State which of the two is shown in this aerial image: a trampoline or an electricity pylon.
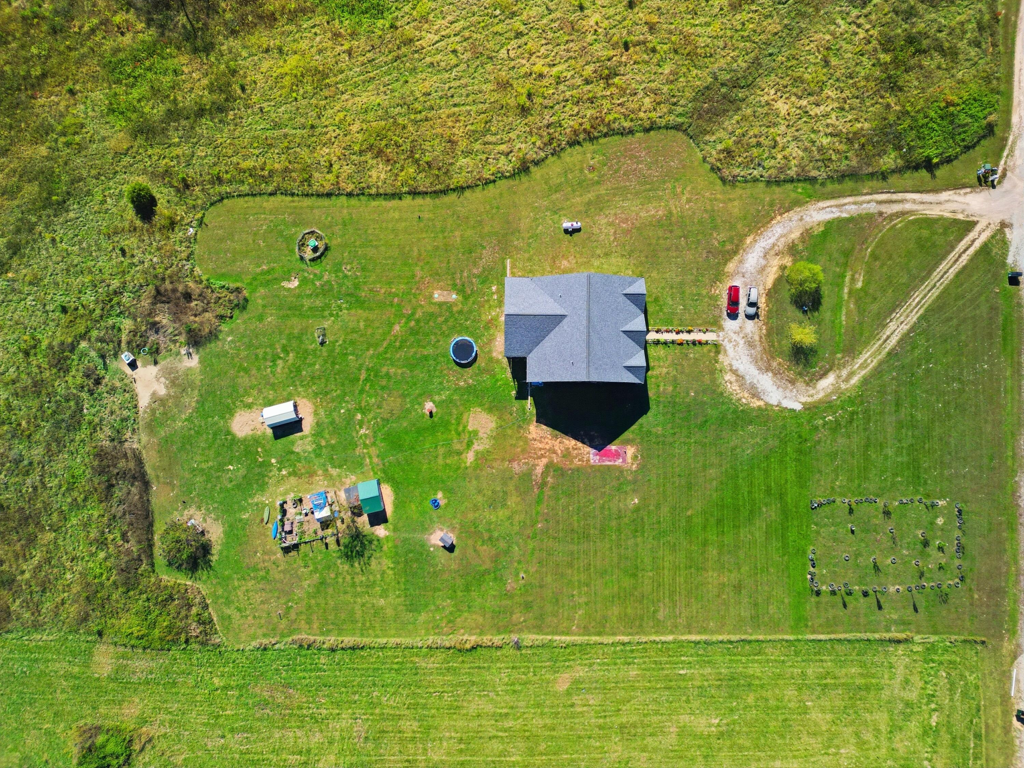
trampoline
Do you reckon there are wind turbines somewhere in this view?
No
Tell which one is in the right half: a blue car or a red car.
red car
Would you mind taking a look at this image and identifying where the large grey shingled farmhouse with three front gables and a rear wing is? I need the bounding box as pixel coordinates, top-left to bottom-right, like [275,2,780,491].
[504,272,647,383]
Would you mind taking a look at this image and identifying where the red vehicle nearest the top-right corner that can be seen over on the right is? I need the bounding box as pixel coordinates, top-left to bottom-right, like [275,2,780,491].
[726,285,742,313]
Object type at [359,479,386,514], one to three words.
shed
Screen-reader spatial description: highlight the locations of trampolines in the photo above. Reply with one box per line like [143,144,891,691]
[450,337,476,362]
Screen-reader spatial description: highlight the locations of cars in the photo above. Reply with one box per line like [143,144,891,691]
[726,285,742,313]
[742,285,759,316]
